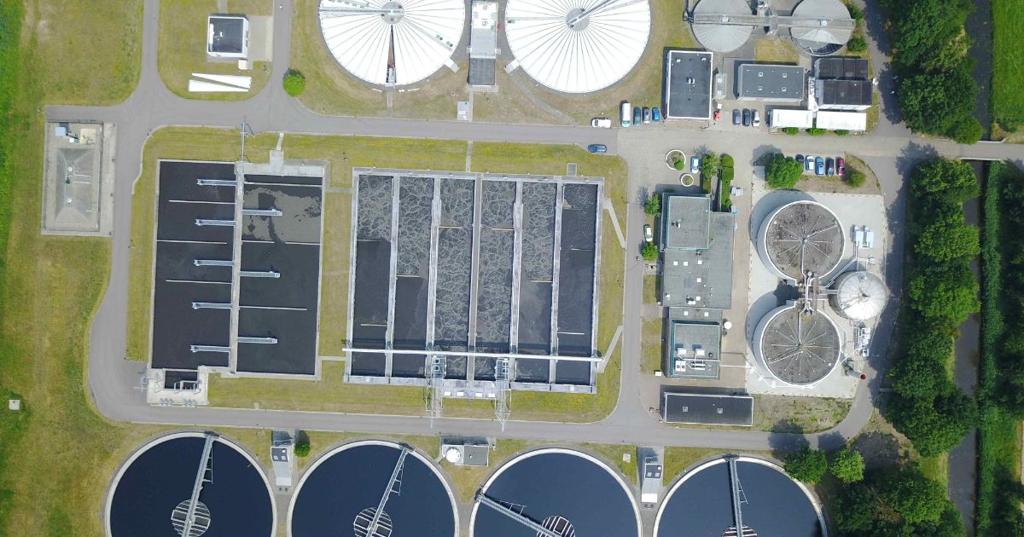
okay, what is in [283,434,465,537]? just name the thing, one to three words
storage tank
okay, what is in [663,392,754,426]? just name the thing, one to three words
building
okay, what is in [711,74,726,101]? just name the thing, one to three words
shed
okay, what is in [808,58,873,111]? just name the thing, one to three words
building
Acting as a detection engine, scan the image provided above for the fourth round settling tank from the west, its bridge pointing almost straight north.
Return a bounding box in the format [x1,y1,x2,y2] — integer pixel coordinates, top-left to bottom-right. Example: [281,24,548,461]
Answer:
[648,450,831,537]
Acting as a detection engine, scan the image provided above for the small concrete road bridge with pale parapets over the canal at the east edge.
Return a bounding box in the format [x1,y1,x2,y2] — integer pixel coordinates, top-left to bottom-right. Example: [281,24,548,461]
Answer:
[958,137,1007,162]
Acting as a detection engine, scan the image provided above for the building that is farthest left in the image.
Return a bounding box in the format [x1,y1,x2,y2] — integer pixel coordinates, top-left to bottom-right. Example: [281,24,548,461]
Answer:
[207,16,249,57]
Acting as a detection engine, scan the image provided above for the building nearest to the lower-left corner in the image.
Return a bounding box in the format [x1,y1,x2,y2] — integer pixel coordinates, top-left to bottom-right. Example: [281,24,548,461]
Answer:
[271,440,294,486]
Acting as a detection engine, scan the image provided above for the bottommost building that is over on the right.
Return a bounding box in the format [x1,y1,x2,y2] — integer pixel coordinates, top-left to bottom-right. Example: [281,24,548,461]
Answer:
[641,456,662,503]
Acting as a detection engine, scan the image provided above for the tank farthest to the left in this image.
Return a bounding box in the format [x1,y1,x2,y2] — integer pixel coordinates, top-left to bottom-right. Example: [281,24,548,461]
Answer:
[100,426,283,537]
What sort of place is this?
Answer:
industrial area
